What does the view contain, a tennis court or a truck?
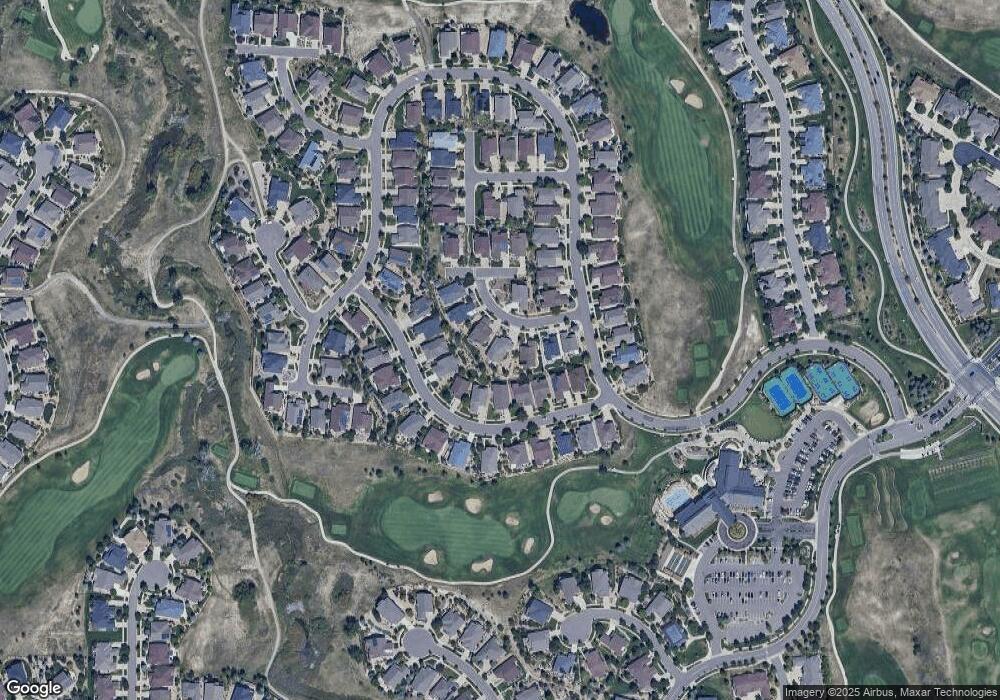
tennis court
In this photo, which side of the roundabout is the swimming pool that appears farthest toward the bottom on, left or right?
left of it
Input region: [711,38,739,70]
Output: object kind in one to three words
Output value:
house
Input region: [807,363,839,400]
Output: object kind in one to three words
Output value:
sports court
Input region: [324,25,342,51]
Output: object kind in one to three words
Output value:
house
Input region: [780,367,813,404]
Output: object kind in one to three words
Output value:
tennis court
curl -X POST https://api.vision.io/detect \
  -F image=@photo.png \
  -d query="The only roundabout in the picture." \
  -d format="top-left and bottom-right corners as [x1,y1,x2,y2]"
[718,511,759,552]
